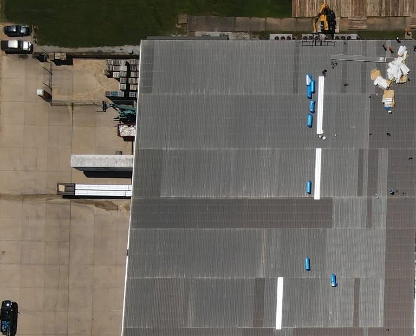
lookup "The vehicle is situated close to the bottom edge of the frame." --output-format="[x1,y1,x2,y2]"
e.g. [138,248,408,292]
[0,301,18,336]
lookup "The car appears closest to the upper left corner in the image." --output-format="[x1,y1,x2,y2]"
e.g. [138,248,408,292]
[4,24,31,37]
